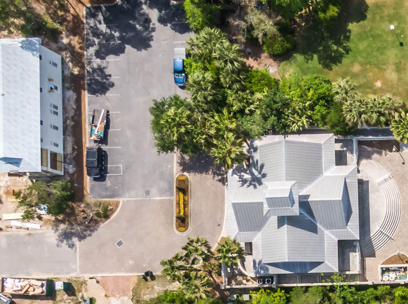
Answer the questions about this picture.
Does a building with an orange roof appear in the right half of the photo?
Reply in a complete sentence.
No, looking in the right half of the photo, there is no building with an orange roof.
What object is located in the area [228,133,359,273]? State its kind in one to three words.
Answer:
building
